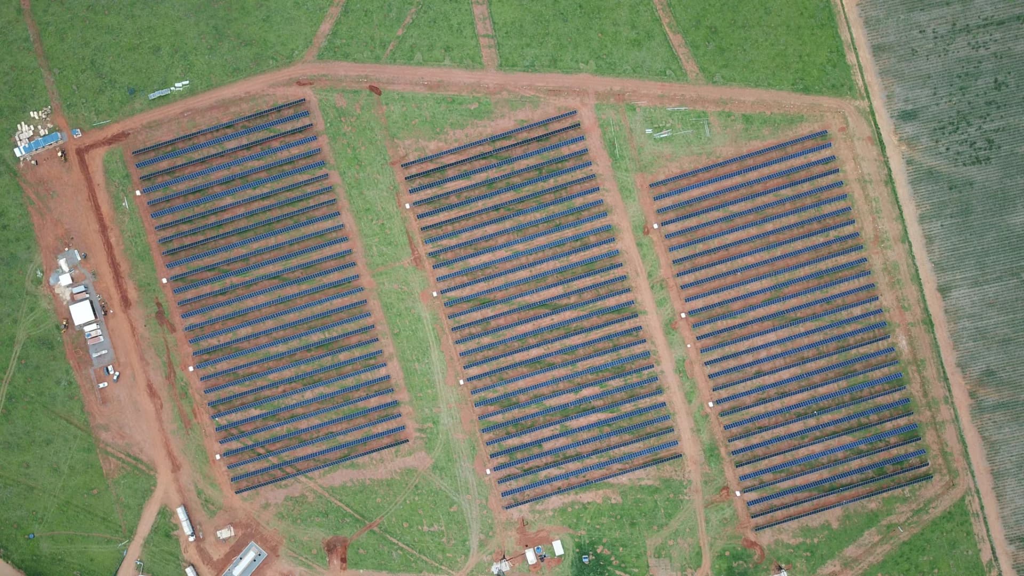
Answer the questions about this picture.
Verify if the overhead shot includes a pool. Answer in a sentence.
No, there appears to be no pool in this shot.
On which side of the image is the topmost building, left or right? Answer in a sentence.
The topmost building sits on the left side.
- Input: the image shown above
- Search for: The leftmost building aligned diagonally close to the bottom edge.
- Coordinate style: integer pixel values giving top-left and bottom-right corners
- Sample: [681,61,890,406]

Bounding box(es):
[223,539,270,576]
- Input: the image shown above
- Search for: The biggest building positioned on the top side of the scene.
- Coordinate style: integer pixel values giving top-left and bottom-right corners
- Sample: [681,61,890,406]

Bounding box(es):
[14,132,64,157]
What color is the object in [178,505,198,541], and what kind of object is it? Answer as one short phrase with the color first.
white vehicle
